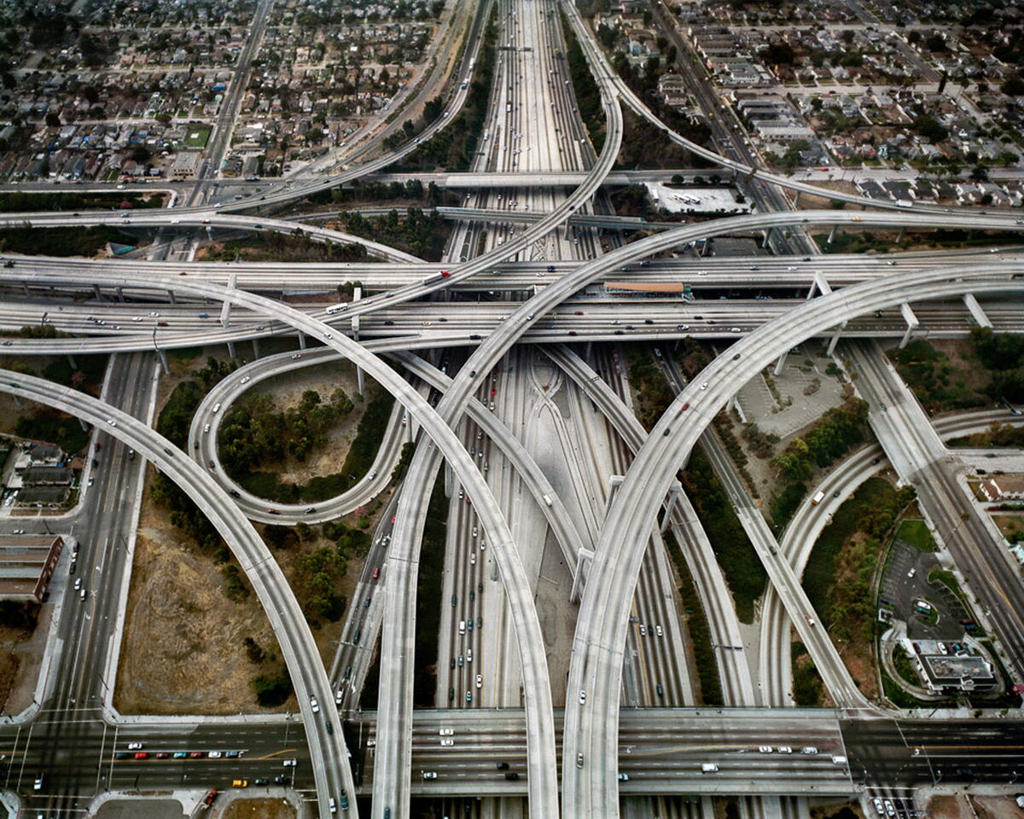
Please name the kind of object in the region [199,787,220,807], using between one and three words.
vehicle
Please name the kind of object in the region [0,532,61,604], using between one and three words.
building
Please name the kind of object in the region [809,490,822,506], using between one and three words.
vehicle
